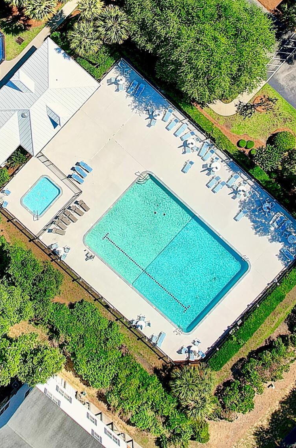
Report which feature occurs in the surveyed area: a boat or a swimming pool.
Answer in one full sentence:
Visible in the photo is a swimming pool.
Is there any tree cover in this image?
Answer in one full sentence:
Yes, there is tree cover in the image.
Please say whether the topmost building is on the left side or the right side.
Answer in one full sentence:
The topmost building sits on the left side.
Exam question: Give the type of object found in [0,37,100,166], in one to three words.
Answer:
building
